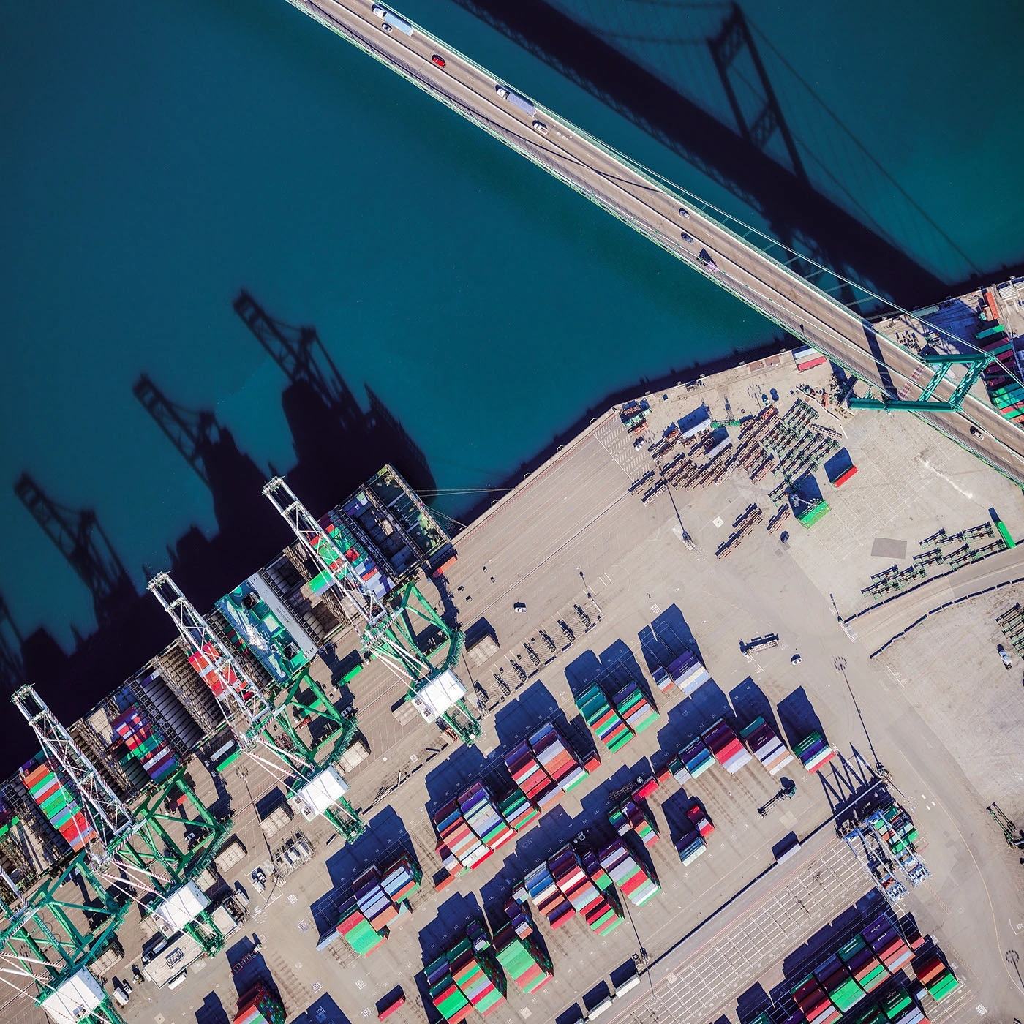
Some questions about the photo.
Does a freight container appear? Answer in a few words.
Yes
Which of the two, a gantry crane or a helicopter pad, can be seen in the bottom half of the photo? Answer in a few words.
gantry crane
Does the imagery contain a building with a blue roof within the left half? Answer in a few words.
No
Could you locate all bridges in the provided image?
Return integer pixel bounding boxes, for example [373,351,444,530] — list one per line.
[275,0,1024,495]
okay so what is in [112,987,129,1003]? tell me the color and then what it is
white vehicle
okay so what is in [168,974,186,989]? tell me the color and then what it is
white vehicle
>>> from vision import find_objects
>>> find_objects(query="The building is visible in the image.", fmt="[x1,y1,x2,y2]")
[145,904,238,986]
